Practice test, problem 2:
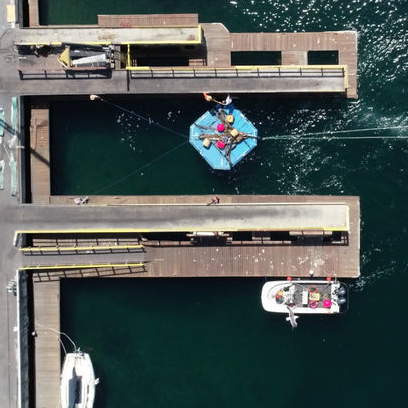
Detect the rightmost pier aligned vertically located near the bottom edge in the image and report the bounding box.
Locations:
[34,278,63,408]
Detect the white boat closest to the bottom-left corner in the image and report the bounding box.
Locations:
[61,350,99,408]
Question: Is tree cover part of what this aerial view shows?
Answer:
No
